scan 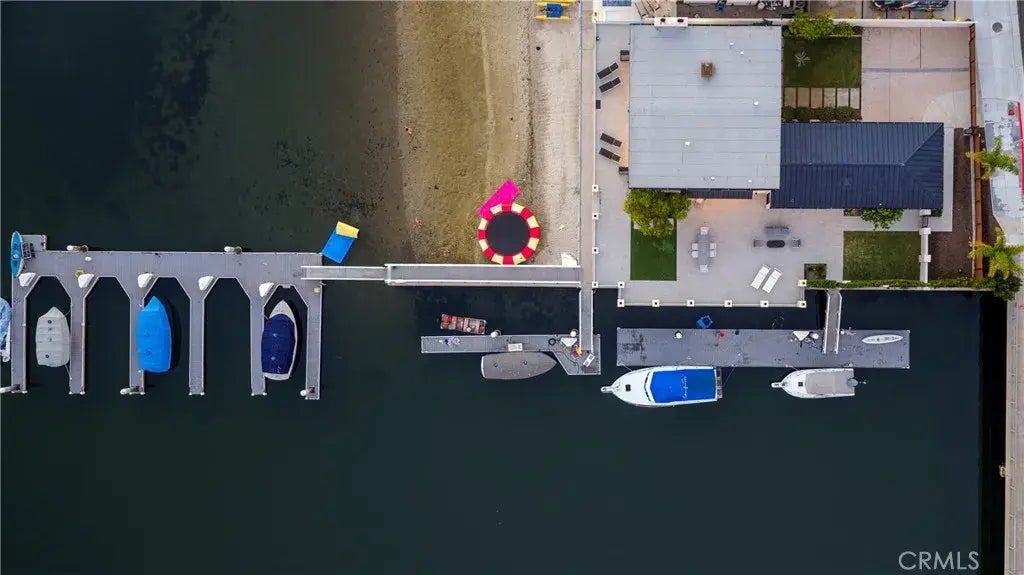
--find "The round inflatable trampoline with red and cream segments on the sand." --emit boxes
[477,203,541,264]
